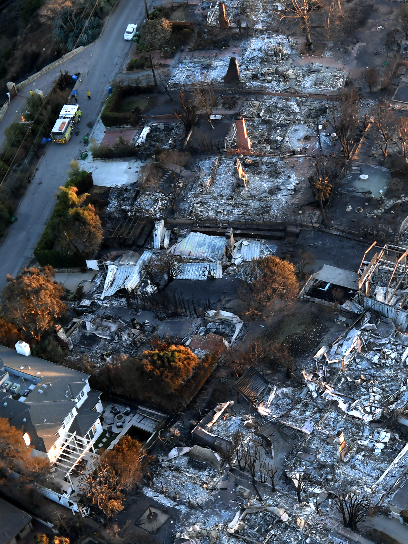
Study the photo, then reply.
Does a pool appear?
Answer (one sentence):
Yes, a pool is visible in the scene.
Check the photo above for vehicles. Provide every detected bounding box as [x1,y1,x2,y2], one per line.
[51,101,79,146]
[69,298,101,313]
[124,23,138,40]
